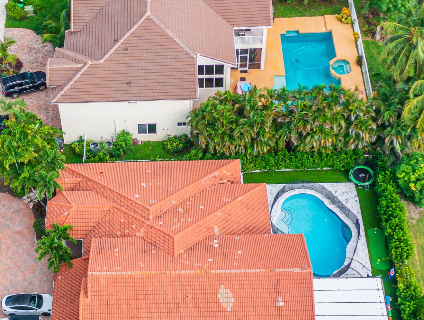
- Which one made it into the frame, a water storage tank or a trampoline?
trampoline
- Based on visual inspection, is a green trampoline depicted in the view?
Yes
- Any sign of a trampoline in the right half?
Yes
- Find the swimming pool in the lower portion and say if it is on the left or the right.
right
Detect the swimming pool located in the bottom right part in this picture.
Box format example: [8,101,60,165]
[271,189,357,277]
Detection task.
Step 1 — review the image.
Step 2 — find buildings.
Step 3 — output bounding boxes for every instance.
[45,159,317,320]
[46,0,275,141]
